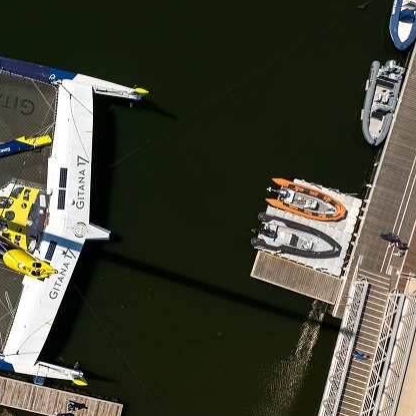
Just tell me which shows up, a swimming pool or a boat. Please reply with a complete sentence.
This aerial view contains a boat.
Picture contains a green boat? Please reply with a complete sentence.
No, I can't see a single green boat in this photo.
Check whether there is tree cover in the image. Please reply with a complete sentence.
No, no tree cover is visible.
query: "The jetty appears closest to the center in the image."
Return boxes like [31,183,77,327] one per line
[249,250,342,305]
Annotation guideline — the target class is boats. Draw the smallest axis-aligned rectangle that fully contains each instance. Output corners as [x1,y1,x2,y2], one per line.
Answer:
[246,213,345,258]
[359,66,406,149]
[389,0,416,53]
[0,57,148,384]
[261,178,351,222]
